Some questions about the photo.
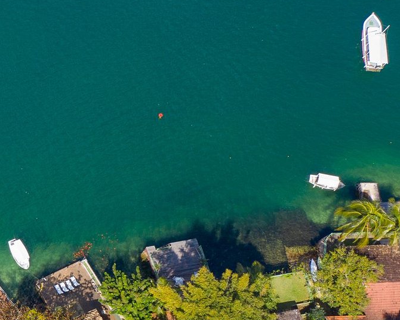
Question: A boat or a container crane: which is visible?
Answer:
boat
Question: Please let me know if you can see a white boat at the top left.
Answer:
No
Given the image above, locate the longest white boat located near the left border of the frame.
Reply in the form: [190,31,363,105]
[8,237,28,268]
